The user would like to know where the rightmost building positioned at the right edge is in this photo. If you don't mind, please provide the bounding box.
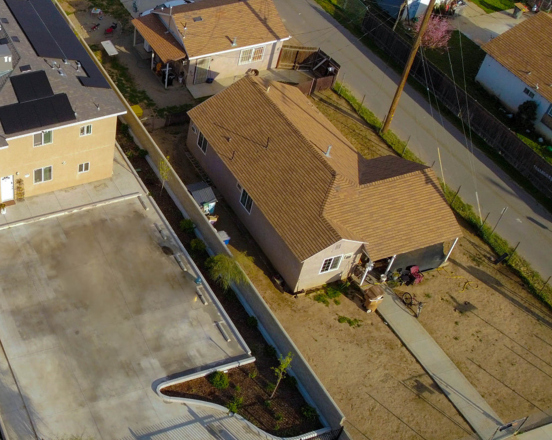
[472,11,552,142]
